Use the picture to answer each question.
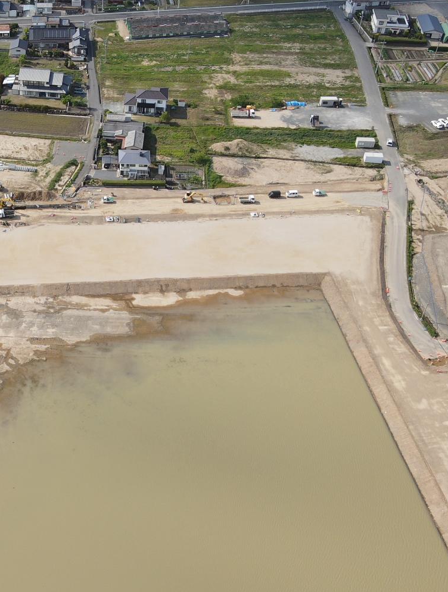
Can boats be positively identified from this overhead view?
No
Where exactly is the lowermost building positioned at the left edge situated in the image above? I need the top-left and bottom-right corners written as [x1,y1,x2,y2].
[8,65,73,100]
